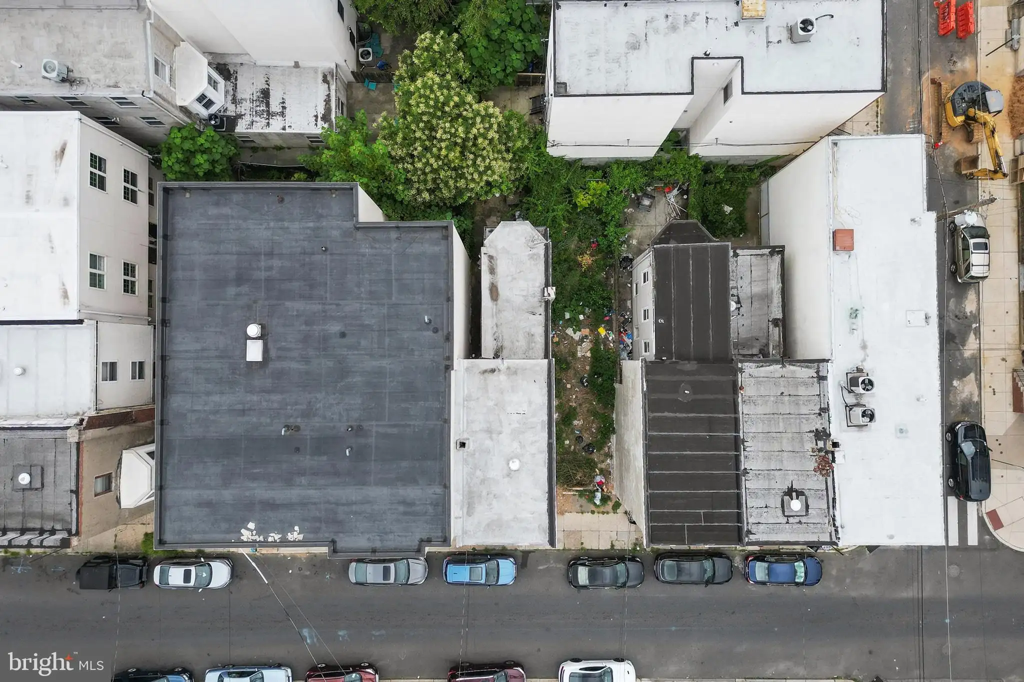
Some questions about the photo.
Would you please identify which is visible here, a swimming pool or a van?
van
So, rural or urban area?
urban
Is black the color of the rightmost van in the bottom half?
Yes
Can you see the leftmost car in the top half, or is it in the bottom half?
bottom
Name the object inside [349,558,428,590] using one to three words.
car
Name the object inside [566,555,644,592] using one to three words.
car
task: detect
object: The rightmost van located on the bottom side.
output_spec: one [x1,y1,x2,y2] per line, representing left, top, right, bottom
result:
[943,420,991,504]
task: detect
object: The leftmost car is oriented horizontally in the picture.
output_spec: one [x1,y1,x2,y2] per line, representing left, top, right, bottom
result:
[68,552,151,592]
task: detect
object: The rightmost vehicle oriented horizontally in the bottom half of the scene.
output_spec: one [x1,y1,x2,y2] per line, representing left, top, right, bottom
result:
[742,553,822,590]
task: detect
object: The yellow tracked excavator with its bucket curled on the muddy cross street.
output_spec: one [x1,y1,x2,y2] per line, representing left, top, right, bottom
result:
[936,85,1010,180]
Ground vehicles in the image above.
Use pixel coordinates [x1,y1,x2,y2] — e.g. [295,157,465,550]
[113,666,197,682]
[947,214,991,285]
[68,552,151,592]
[653,551,733,589]
[559,658,635,682]
[566,555,644,592]
[936,85,1010,180]
[154,555,236,593]
[349,558,428,590]
[207,663,293,682]
[305,664,381,682]
[742,553,822,590]
[443,552,517,590]
[943,420,991,504]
